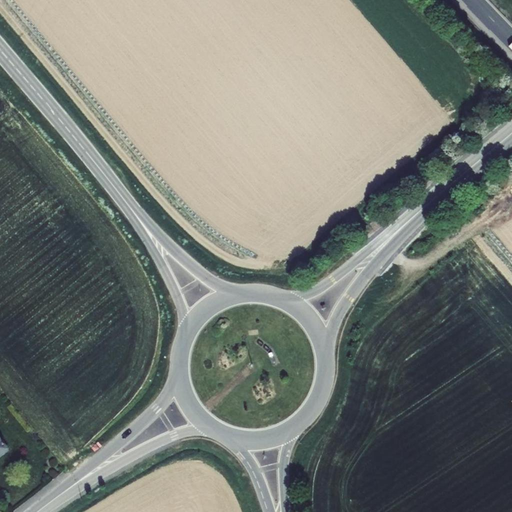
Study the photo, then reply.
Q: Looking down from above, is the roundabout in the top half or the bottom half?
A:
bottom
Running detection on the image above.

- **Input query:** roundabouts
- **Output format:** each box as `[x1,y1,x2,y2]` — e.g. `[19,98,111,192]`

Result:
[168,282,336,450]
